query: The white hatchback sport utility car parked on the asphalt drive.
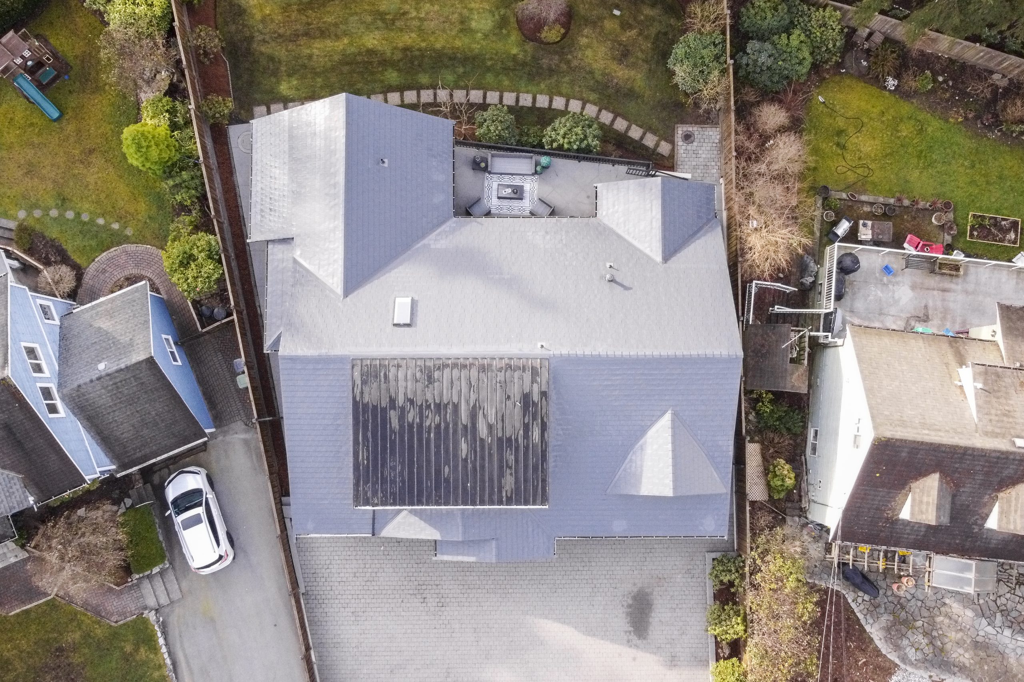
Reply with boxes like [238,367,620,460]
[160,465,234,580]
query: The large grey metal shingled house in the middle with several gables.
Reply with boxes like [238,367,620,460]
[244,91,744,563]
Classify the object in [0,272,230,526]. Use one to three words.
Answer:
house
